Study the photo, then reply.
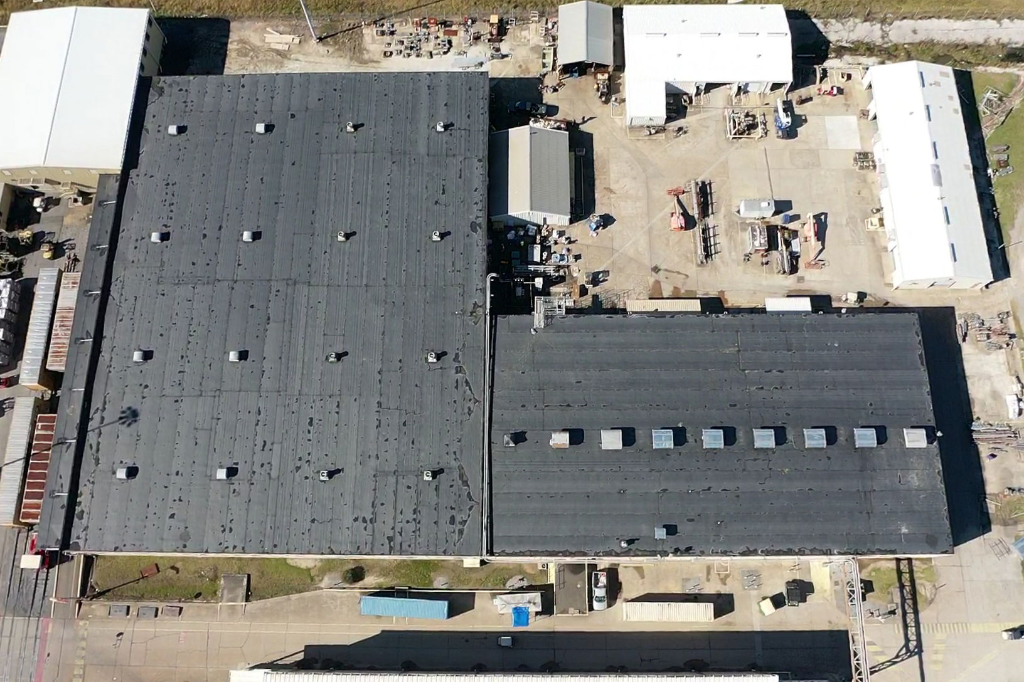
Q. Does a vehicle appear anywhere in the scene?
Yes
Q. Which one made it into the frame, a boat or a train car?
train car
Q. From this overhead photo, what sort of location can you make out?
industrial area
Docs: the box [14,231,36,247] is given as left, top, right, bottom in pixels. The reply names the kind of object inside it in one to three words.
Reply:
work vehicle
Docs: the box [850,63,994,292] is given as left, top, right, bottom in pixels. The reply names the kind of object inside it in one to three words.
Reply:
building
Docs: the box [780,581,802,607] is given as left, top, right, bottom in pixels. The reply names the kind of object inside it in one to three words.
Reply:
truck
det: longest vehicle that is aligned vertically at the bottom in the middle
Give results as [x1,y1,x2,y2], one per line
[592,569,608,613]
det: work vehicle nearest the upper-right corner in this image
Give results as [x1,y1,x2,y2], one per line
[816,84,840,99]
